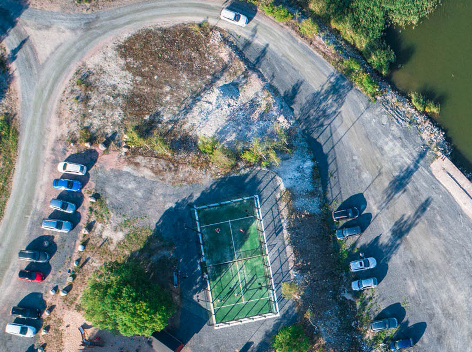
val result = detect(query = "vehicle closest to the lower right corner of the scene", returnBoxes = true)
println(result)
[389,337,415,351]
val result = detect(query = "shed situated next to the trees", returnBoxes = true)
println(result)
[148,327,185,352]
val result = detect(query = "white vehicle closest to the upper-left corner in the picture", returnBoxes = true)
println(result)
[55,160,89,176]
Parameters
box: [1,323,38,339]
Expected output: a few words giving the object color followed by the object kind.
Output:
white vehicle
